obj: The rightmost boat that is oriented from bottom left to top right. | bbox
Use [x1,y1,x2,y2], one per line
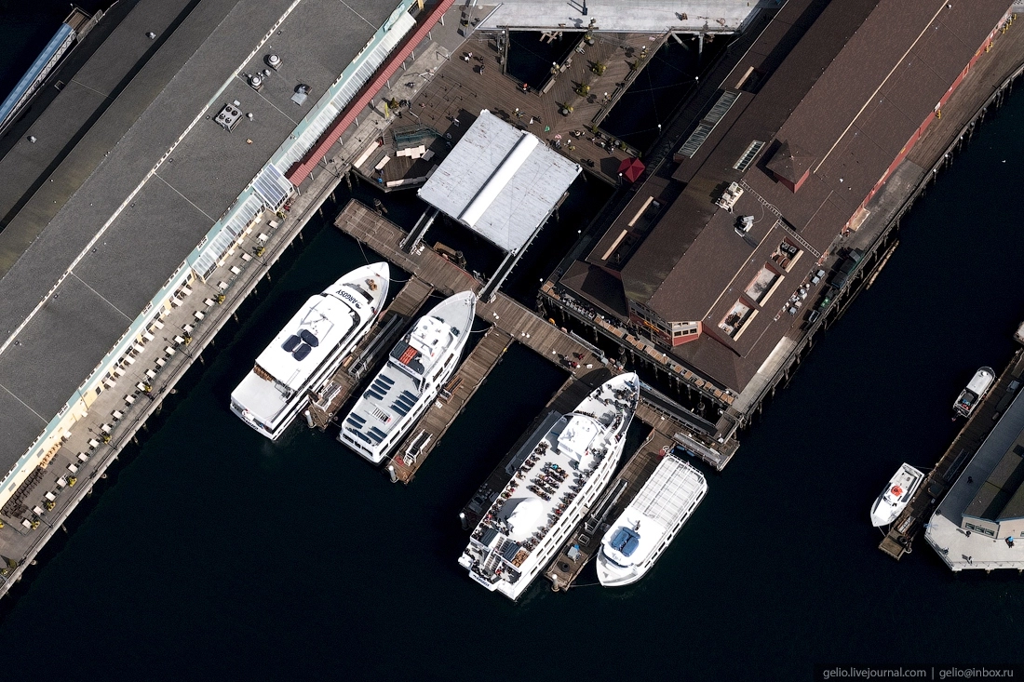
[953,365,992,419]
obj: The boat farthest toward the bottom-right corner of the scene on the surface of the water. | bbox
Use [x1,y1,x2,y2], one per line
[871,463,924,528]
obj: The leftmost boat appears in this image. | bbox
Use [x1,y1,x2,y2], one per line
[229,260,390,440]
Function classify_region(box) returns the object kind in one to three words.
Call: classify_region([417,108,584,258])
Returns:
shed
